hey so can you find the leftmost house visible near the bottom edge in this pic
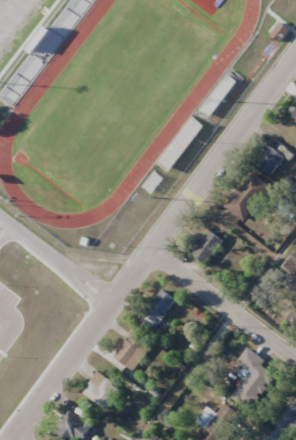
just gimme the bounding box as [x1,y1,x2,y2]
[56,410,90,439]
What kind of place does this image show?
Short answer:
sports ground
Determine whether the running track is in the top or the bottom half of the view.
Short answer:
top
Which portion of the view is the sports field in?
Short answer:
top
